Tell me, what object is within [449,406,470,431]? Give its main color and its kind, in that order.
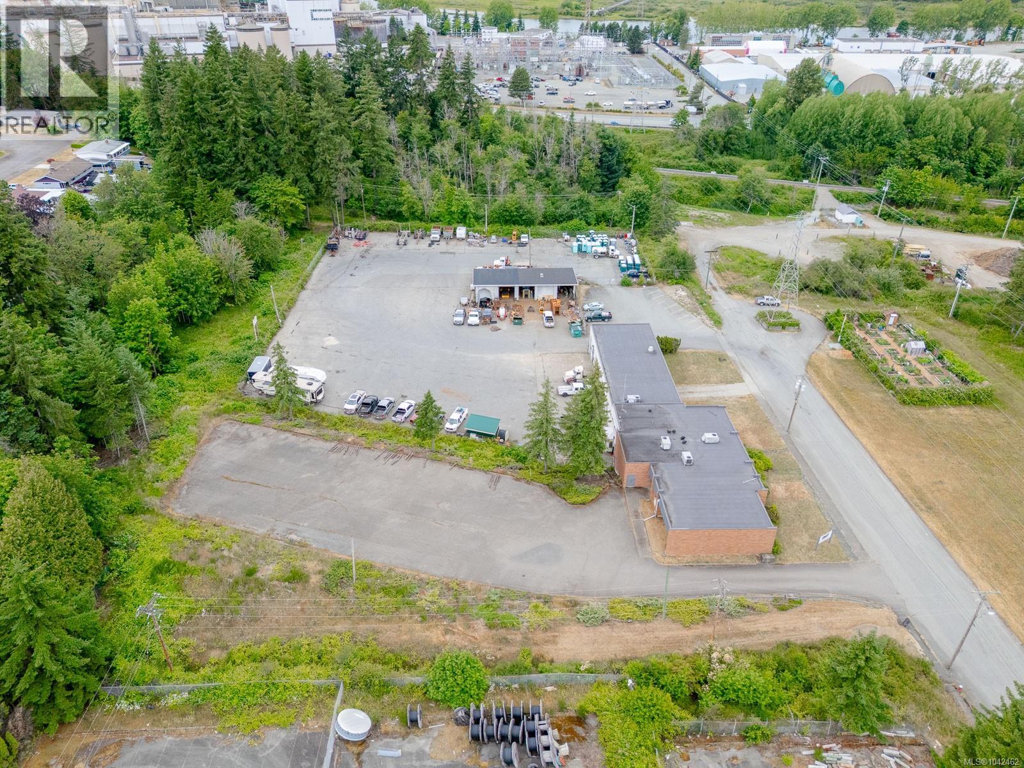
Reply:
white truck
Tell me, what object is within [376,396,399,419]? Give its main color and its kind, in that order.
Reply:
gray truck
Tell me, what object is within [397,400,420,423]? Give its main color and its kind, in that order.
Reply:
white truck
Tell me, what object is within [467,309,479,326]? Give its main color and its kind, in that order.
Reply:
white vehicle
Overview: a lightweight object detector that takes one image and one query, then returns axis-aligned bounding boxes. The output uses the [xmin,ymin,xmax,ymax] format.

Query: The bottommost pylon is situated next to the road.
[761,208,818,326]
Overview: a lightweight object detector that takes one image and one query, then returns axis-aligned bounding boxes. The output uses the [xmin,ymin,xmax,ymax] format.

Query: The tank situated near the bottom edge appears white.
[334,714,371,752]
